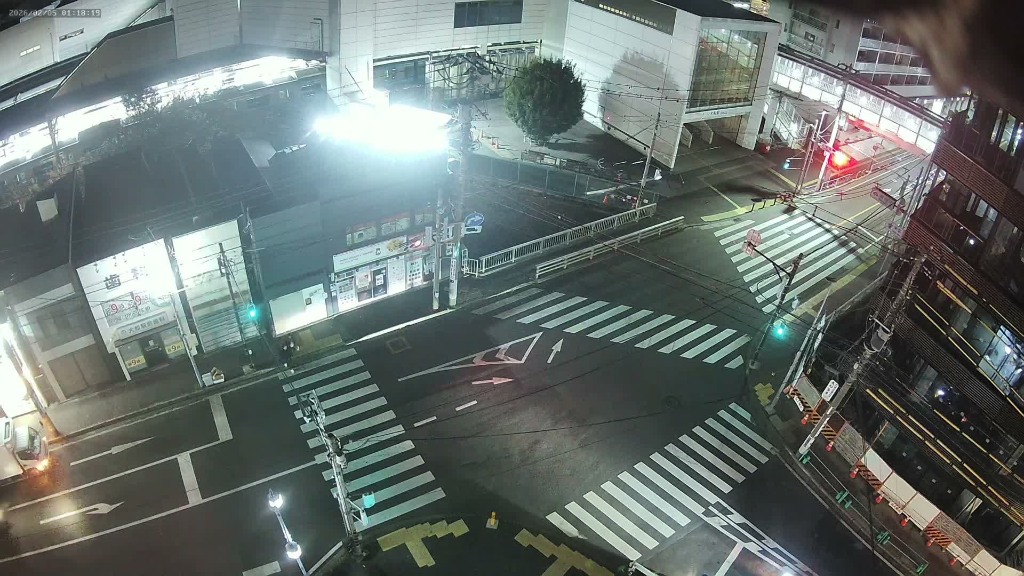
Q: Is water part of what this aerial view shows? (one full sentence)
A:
No, the scene doesn't show any water.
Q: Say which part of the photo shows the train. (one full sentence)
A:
The train appears toward the top left of the photo.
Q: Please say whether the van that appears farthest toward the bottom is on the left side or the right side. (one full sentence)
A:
It is on the left.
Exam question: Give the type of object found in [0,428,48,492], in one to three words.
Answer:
van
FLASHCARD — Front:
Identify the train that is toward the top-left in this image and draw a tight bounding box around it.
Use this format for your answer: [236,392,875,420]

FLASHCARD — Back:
[0,67,317,188]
